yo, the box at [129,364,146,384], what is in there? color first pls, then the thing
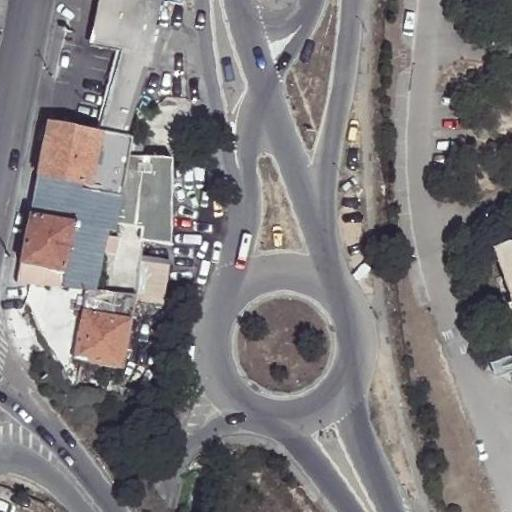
white car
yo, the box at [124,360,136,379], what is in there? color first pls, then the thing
white vehicle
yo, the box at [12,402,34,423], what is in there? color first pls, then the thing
white car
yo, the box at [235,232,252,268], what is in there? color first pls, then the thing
white vehicle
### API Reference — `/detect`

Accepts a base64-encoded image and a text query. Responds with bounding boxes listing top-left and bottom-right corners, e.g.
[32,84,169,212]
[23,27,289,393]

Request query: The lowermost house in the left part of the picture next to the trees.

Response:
[73,308,136,370]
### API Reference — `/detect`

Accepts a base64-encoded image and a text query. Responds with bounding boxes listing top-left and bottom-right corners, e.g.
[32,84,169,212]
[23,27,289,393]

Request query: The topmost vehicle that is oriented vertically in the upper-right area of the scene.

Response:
[402,10,414,36]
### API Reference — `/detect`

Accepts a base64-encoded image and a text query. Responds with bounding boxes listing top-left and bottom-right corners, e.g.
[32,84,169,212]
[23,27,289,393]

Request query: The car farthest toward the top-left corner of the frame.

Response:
[56,2,76,21]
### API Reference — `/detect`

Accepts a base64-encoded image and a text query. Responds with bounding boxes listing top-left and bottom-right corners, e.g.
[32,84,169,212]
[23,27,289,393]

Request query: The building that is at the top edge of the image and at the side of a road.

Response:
[90,0,154,130]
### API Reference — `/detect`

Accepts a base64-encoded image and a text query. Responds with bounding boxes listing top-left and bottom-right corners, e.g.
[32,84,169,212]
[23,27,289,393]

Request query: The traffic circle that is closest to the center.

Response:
[232,290,338,400]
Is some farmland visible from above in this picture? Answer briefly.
No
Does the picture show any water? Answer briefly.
No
